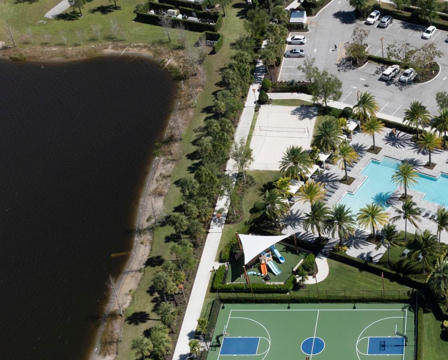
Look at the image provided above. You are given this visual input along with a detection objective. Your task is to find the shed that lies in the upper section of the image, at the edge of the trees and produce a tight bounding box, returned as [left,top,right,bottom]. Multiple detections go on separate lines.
[289,11,306,33]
